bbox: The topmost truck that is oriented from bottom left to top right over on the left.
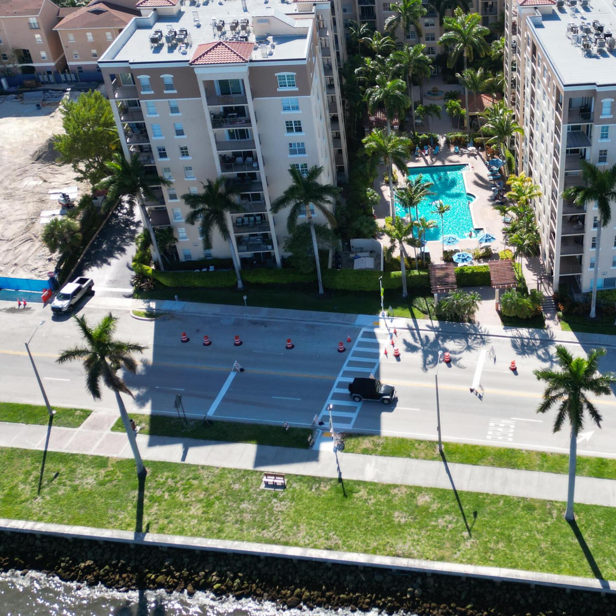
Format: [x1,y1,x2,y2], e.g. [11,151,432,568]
[56,280,95,314]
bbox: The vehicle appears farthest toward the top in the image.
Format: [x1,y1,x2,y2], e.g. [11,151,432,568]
[56,184,72,211]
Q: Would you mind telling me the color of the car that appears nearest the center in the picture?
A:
black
